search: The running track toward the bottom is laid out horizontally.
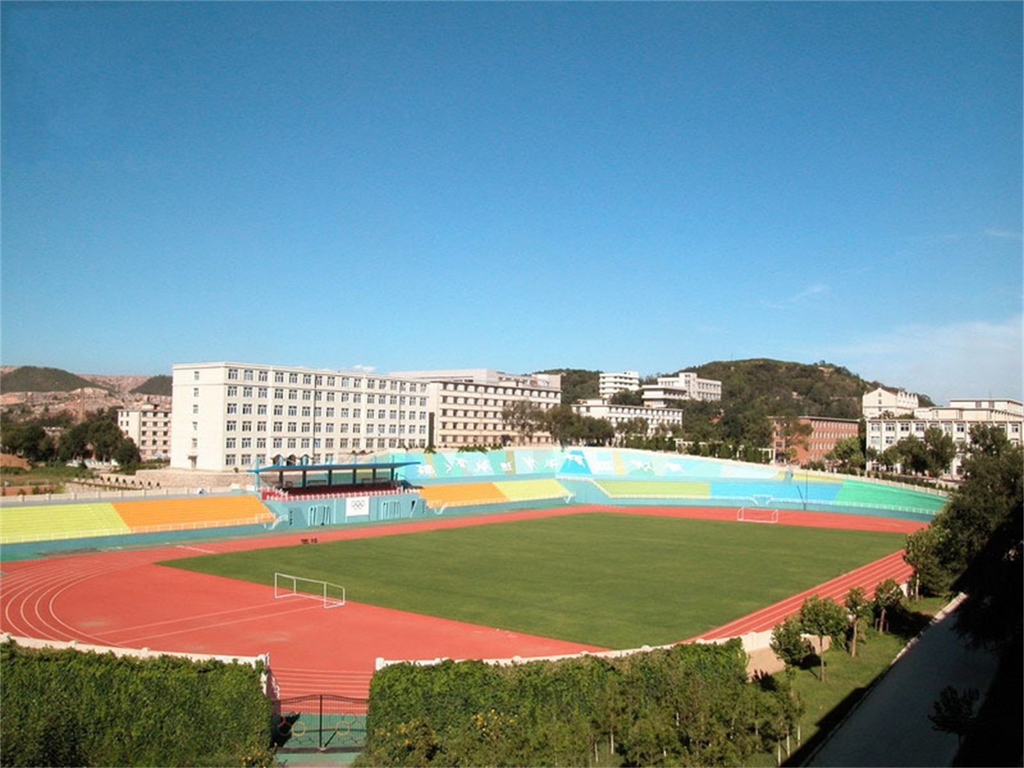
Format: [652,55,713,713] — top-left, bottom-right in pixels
[0,505,948,715]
